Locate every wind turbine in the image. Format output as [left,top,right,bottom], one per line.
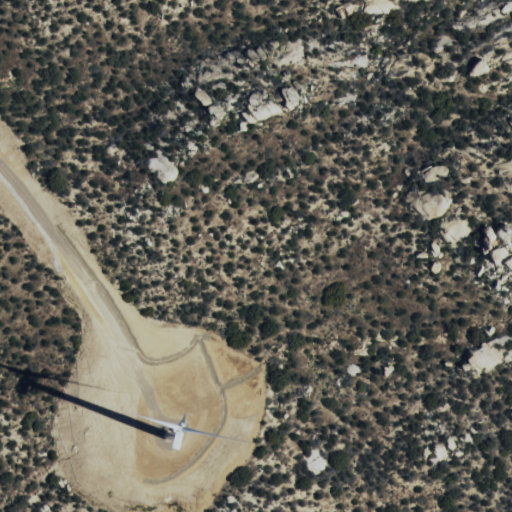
[110,408,250,451]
